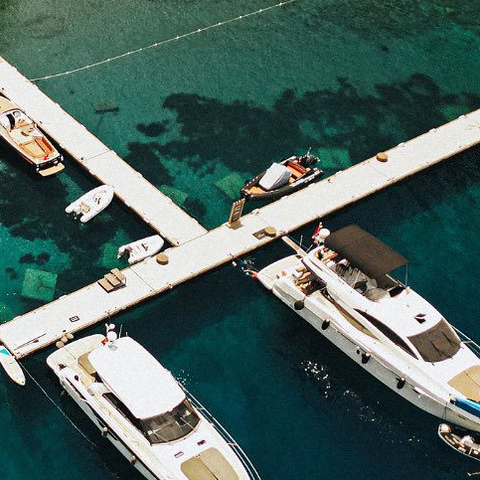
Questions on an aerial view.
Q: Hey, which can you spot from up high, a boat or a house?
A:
boat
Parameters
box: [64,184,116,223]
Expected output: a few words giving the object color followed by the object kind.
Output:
white boat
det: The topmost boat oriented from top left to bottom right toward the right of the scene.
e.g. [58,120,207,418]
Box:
[264,222,480,433]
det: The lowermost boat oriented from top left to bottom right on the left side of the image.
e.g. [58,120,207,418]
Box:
[52,319,254,480]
